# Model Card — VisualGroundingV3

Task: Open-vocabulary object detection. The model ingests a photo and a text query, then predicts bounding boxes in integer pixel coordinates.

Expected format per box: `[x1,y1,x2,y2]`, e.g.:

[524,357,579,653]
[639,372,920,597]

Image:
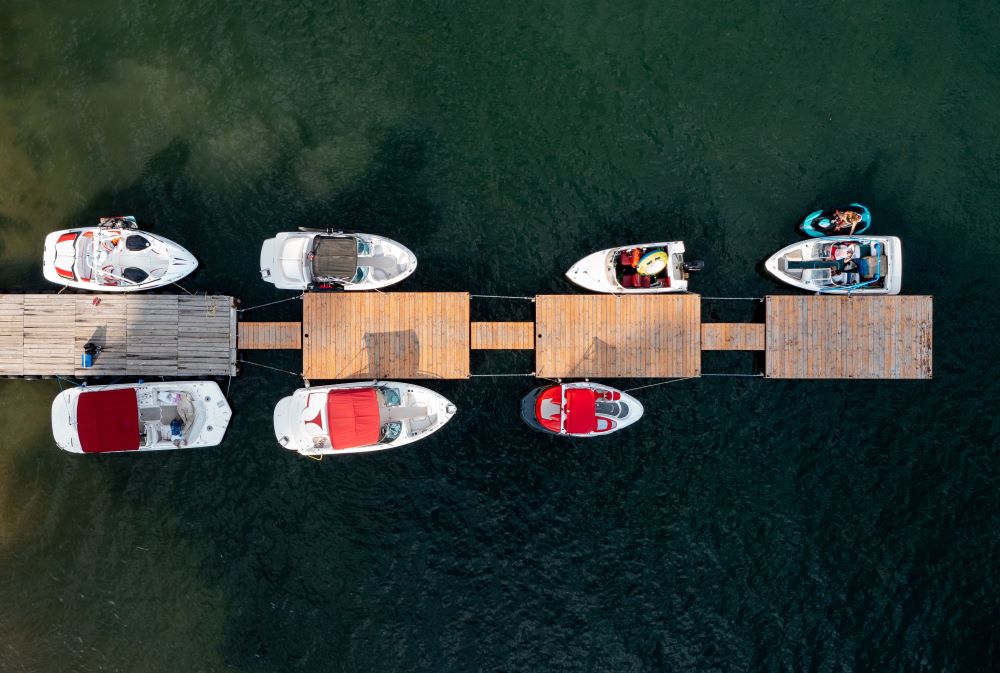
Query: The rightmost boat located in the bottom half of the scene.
[520,378,645,438]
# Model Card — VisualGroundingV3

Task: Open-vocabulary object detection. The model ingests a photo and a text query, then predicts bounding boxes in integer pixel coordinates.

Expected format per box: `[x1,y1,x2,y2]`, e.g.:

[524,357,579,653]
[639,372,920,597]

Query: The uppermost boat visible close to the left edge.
[44,216,198,292]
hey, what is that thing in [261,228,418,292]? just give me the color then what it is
white boat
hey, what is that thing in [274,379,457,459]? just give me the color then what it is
white boat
